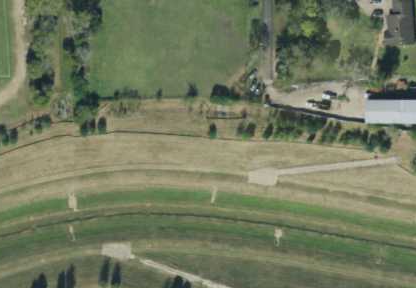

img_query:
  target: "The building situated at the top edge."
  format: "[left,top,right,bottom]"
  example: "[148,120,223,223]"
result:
[384,0,416,46]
